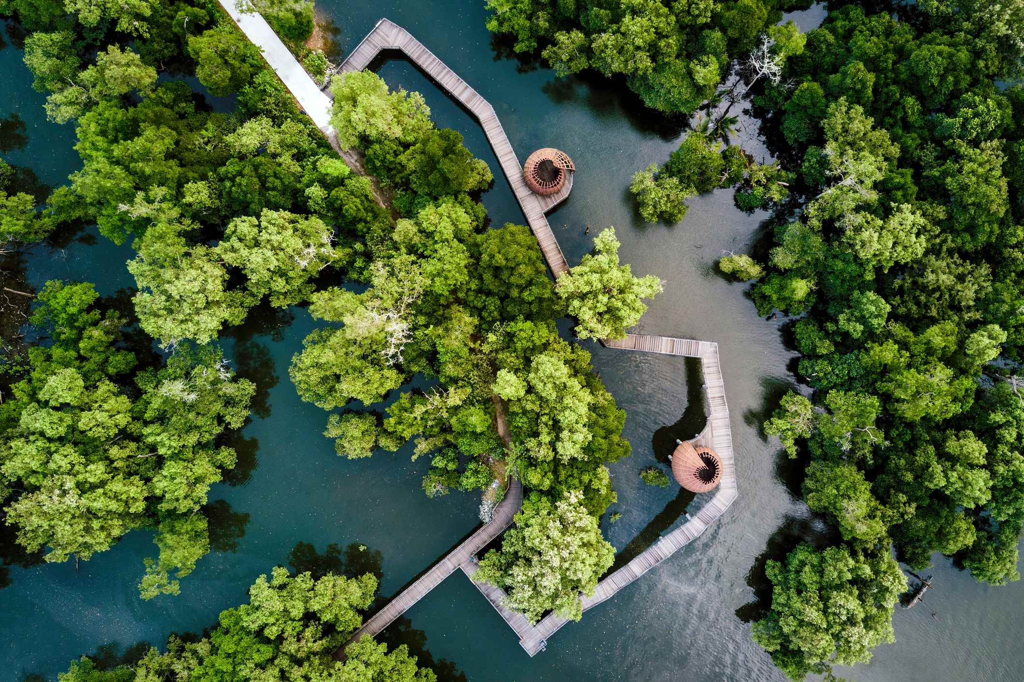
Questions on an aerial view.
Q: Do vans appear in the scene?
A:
No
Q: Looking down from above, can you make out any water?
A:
Yes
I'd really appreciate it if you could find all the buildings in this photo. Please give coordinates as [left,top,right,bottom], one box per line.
[524,144,576,194]
[675,441,729,496]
